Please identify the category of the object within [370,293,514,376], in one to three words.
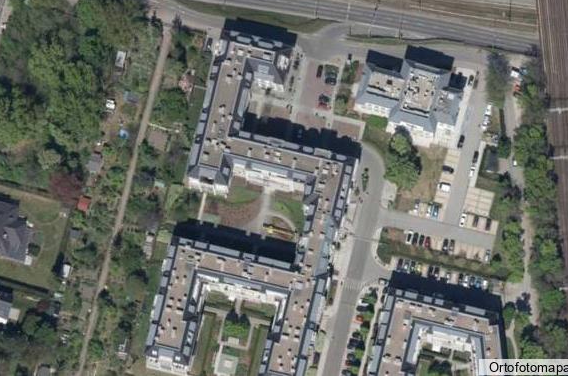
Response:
building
